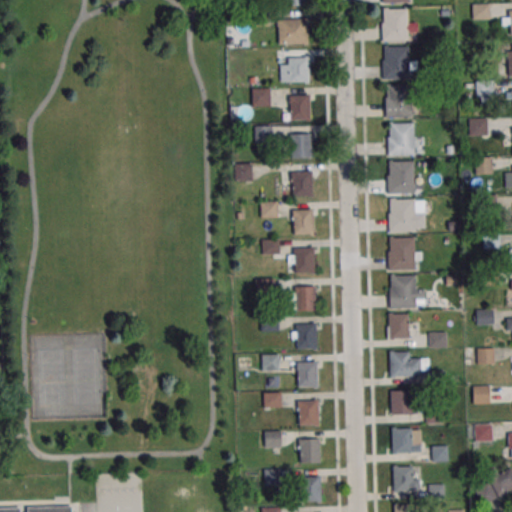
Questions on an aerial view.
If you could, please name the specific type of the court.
tennis court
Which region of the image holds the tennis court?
bottom left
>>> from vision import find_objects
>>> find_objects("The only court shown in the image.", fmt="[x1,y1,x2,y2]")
[30,333,105,418]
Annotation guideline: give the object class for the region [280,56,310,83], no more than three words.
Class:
house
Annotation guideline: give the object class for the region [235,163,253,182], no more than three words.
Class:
building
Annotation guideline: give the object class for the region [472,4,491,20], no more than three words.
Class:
building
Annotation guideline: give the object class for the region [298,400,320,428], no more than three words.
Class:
house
